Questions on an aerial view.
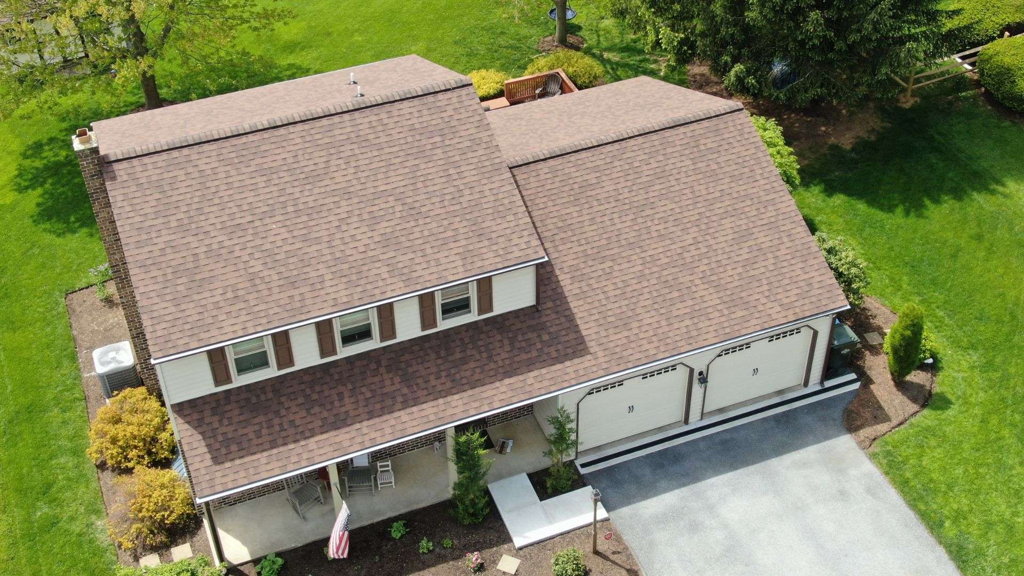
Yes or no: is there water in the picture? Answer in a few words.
No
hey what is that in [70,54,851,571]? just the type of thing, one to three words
house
